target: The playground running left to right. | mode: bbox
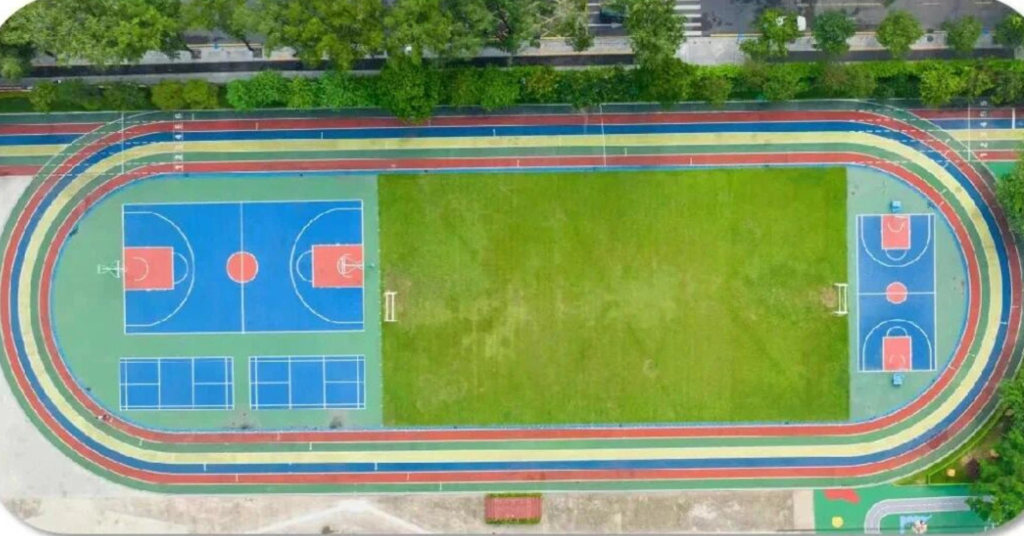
[813,477,1024,536]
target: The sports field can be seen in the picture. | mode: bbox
[377,167,849,424]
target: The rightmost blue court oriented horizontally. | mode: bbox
[249,354,366,408]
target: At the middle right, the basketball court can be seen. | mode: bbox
[856,213,936,372]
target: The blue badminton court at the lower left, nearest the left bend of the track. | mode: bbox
[119,356,234,410]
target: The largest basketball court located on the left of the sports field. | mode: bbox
[122,200,365,335]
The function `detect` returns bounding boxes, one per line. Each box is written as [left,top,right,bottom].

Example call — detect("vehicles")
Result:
[794,16,804,33]
[599,3,630,24]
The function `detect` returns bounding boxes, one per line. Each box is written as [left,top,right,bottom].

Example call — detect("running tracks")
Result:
[0,98,1024,494]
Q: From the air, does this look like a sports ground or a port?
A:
sports ground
